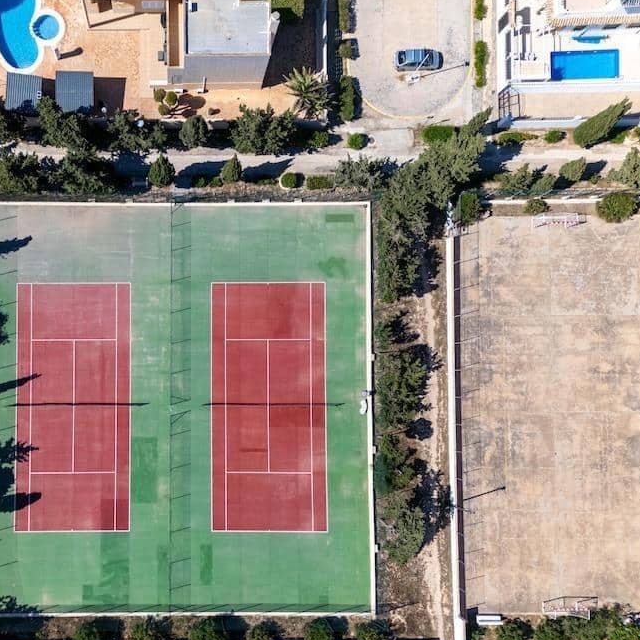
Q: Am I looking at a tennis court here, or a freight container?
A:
tennis court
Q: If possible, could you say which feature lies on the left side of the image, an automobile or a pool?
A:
pool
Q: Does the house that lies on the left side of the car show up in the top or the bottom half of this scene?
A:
top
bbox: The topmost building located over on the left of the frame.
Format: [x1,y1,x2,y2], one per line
[84,0,282,92]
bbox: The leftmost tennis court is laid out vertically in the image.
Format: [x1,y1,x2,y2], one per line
[0,206,171,611]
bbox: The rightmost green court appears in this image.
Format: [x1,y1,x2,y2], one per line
[171,205,370,611]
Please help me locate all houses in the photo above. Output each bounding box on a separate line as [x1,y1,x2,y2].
[84,0,282,92]
[508,0,640,92]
